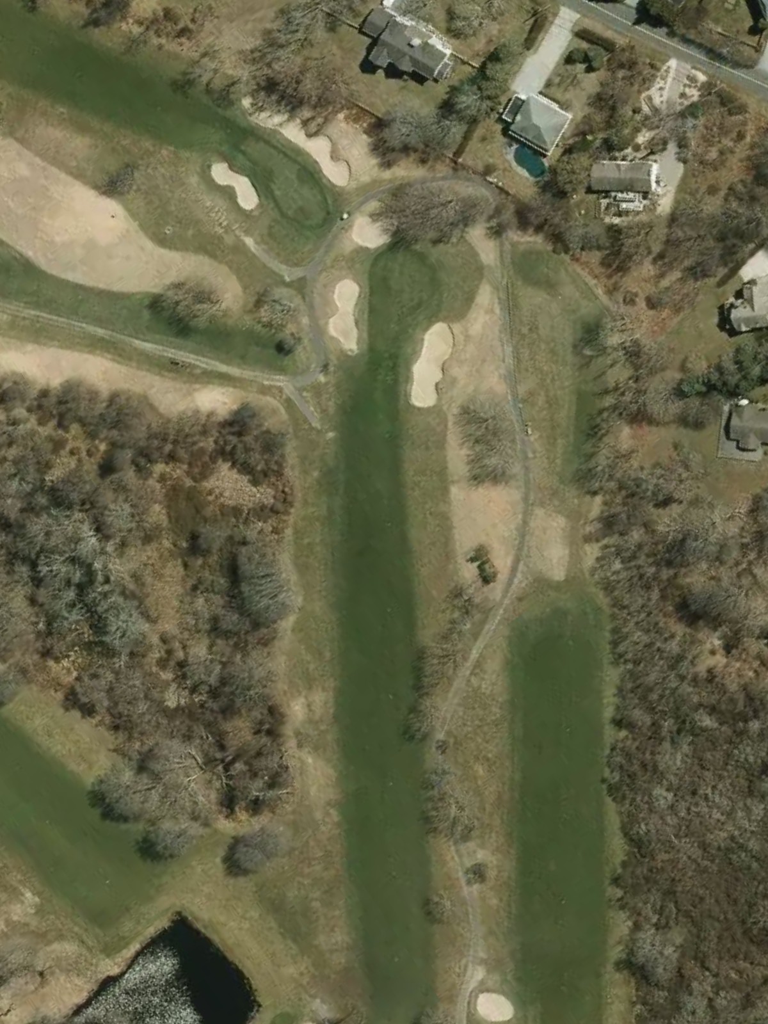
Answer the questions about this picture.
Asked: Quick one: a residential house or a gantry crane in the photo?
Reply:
residential house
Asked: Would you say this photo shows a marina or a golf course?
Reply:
golf course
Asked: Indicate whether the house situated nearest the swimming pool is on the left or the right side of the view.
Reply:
right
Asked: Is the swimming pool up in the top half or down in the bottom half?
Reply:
top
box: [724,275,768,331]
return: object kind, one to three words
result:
house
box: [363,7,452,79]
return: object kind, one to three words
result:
house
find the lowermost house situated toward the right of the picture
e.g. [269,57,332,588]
[717,404,768,462]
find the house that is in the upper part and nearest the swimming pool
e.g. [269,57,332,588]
[502,93,571,155]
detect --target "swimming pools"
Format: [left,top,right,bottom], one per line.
[509,142,548,182]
